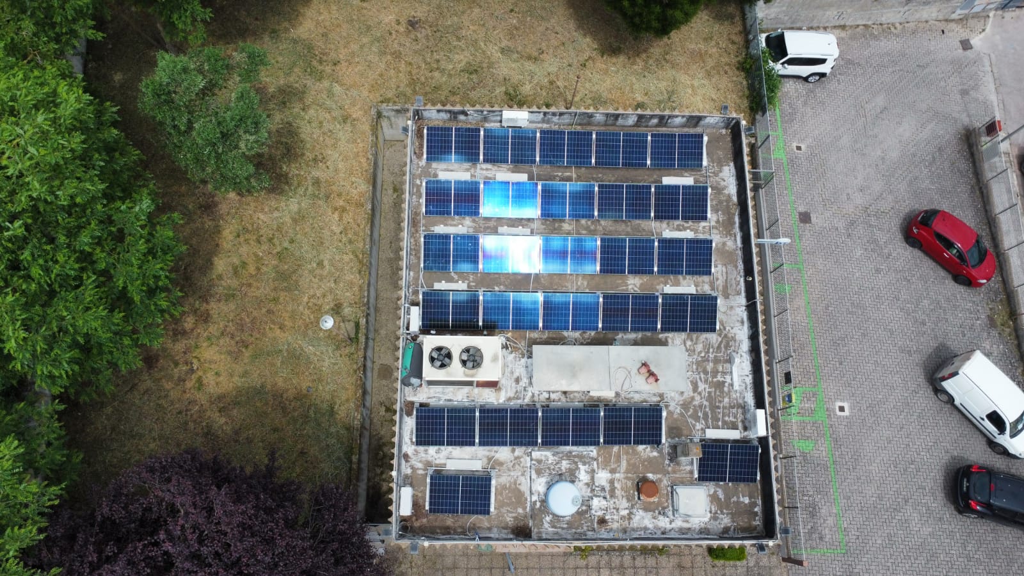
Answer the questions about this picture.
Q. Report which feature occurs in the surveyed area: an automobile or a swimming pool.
automobile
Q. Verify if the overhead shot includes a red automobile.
Yes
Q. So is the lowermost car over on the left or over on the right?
right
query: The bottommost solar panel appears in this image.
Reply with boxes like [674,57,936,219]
[428,475,493,515]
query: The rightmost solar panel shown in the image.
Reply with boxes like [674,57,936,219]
[697,444,761,482]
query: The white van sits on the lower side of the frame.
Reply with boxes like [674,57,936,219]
[932,353,1024,458]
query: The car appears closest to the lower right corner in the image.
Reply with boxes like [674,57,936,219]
[954,467,1024,528]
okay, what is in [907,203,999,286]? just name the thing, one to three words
car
